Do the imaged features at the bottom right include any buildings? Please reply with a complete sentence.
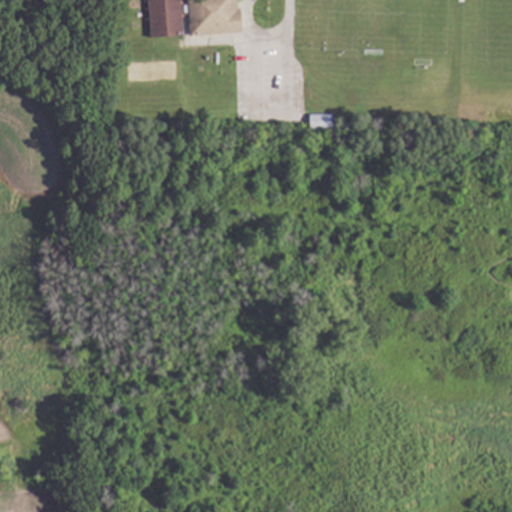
No, looking at the bottom right, there is no building.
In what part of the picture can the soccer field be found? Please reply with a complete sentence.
The soccer field appears toward the top right of the photo.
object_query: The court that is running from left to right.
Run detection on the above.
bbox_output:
[128,58,176,82]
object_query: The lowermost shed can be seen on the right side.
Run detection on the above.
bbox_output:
[310,112,334,128]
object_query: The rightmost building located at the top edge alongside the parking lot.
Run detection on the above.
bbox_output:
[188,0,242,34]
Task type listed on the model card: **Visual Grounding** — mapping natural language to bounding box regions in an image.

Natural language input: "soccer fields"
[296,0,450,54]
